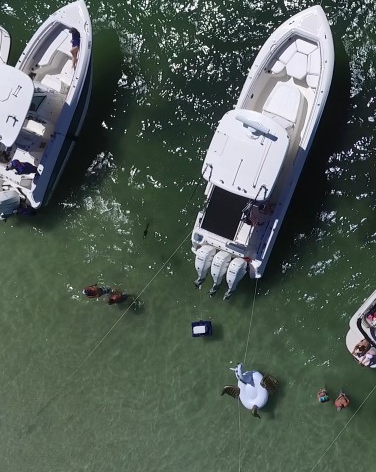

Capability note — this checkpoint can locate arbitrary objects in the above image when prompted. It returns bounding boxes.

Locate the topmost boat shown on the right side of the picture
[184,5,335,301]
